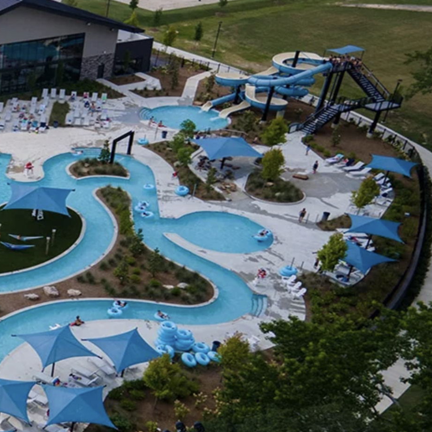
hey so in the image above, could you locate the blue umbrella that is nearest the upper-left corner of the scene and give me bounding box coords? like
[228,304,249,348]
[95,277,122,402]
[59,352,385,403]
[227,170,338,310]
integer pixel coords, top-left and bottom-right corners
[1,183,75,223]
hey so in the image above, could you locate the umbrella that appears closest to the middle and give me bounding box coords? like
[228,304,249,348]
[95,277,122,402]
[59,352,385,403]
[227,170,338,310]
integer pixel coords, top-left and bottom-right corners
[188,136,265,171]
